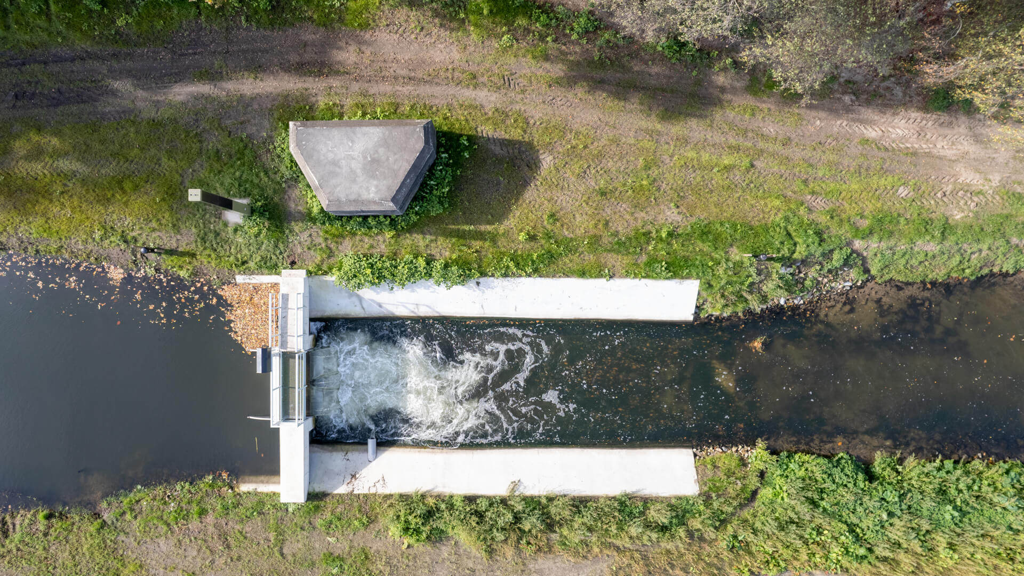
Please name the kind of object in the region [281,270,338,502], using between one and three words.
dam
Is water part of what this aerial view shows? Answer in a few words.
Yes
